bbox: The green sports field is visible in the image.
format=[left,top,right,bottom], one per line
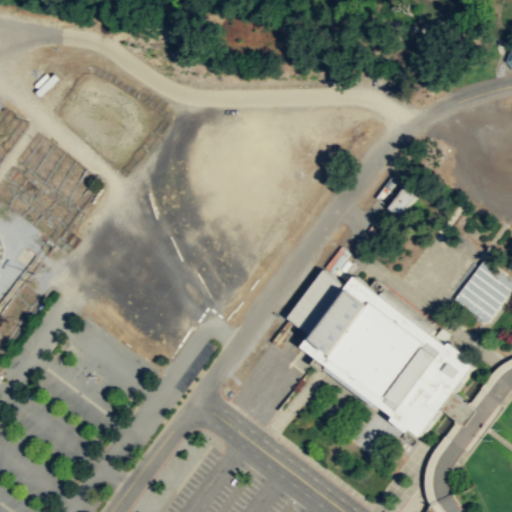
[466,406,512,512]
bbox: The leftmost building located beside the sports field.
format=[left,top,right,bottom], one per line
[300,276,474,438]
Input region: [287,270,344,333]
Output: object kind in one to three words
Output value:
shed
